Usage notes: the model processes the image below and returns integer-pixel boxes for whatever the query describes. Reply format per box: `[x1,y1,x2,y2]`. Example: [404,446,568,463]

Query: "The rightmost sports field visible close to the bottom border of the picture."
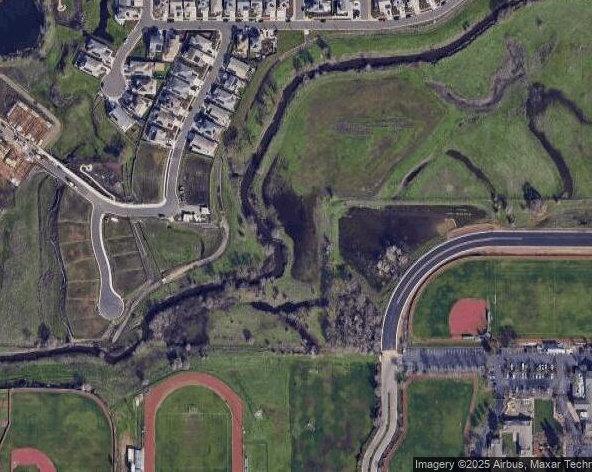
[392,374,477,472]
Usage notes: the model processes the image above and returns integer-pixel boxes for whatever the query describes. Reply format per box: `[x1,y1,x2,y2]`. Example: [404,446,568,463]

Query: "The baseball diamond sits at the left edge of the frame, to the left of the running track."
[0,388,115,472]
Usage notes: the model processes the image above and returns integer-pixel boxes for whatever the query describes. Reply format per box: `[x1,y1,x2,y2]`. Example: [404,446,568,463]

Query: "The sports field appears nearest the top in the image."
[411,254,592,341]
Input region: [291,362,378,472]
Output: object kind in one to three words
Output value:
sports field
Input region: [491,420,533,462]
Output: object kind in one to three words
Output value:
building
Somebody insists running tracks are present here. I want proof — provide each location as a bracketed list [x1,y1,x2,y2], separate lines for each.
[145,372,243,472]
